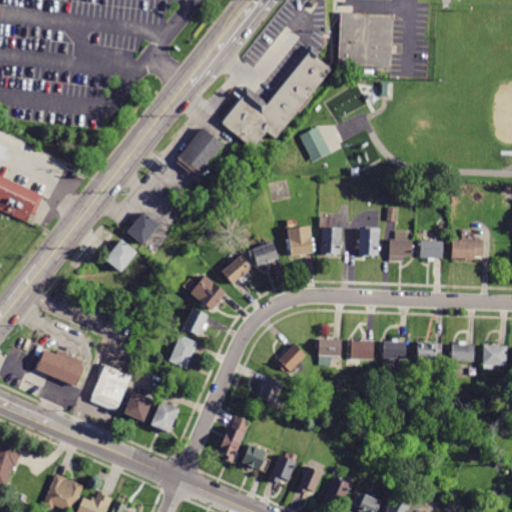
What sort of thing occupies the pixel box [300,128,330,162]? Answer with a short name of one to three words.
shed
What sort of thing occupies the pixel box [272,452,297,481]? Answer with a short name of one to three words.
house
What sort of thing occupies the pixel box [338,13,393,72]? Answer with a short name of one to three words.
building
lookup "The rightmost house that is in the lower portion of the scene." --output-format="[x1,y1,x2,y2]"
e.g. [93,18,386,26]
[484,345,508,370]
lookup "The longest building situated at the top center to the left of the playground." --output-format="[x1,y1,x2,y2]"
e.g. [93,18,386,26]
[223,54,331,146]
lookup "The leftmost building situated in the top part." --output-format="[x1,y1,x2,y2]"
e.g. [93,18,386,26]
[0,176,42,222]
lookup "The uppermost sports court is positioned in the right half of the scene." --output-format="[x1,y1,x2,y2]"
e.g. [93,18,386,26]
[325,86,367,124]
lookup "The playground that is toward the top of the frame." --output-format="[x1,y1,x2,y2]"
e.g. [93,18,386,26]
[342,131,382,167]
